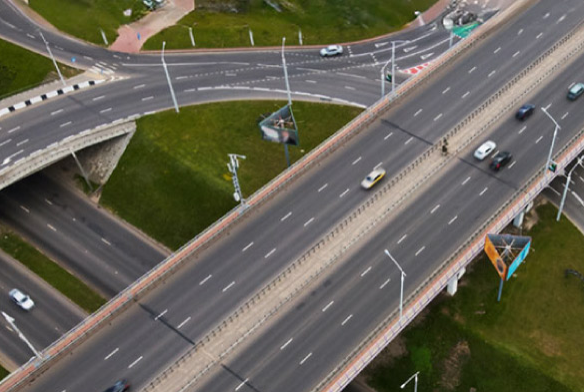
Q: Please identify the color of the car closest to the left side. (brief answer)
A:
white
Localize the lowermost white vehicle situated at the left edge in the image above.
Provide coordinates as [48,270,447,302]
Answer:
[5,287,34,311]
